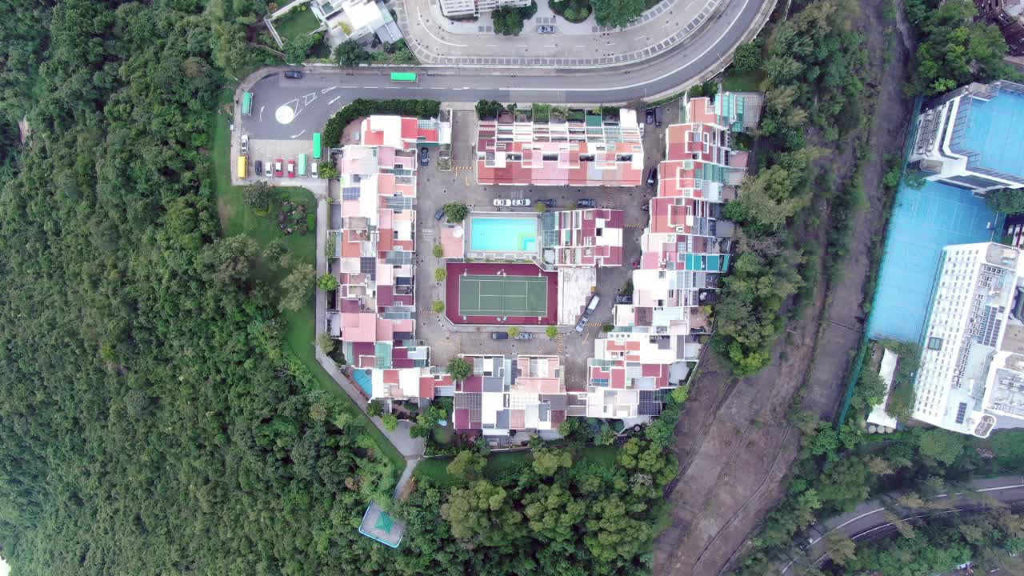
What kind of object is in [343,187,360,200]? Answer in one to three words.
solar panel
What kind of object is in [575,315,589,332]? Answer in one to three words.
car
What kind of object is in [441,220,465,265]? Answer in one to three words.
building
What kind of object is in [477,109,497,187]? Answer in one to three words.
house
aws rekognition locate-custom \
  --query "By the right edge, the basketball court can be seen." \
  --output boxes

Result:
[875,181,1014,344]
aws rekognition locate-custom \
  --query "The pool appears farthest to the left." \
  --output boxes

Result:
[343,367,372,398]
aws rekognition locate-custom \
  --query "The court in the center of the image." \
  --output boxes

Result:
[447,263,557,325]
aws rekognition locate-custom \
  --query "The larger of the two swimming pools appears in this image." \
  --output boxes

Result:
[464,211,558,271]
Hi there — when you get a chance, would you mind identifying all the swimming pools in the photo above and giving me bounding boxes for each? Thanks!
[464,211,558,271]
[343,367,372,398]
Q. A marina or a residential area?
residential area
